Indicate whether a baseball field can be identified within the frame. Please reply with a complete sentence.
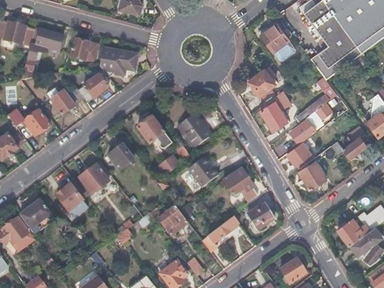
No, I find no baseball field anywhere in the image.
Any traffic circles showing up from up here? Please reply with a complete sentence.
Yes, a traffic circle is visible in the scene.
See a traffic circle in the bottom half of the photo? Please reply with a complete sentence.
No, there is no traffic circle in the bottom half of the photo.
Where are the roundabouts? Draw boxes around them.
[158,11,235,88]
